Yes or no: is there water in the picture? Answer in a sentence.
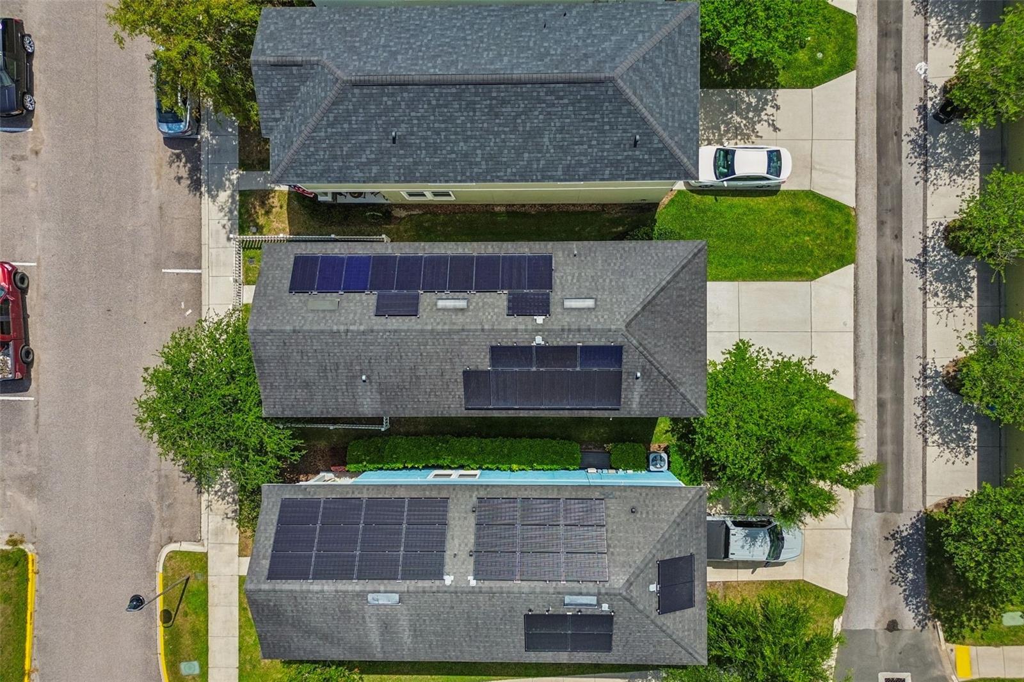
No, no water is visible.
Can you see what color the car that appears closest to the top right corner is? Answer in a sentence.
The car that appears closest to the top right corner is white.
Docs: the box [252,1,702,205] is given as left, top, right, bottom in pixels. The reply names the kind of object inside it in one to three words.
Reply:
house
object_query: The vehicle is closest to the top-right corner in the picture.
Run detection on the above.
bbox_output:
[691,141,791,189]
